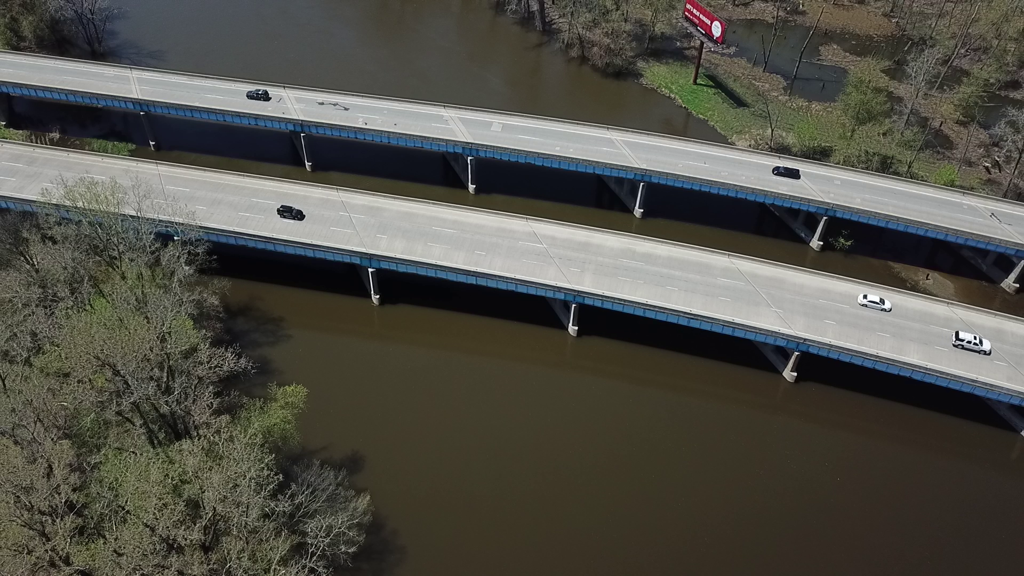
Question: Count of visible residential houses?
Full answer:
The photo contains no residential houses.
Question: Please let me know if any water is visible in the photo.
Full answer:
Yes, some water is visible.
